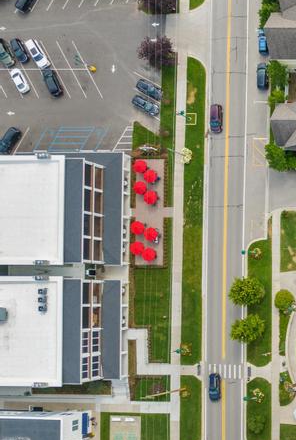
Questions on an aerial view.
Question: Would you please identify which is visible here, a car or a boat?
car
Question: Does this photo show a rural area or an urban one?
urban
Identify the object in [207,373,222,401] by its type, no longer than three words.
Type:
car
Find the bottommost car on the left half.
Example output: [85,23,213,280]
[0,128,24,154]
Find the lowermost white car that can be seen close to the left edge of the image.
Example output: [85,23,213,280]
[8,67,31,94]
